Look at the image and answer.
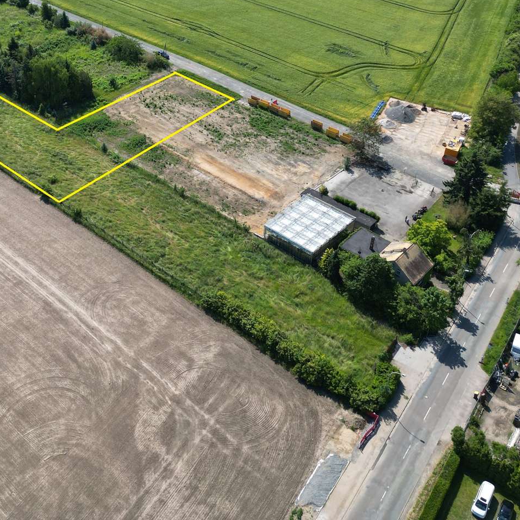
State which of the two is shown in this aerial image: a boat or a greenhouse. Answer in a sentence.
The one in the frame is a greenhouse.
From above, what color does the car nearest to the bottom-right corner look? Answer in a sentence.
The car nearest to the bottom-right corner looks black in the image.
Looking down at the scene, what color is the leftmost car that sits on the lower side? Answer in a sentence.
From above, the leftmost car that sits on the lower side appears white.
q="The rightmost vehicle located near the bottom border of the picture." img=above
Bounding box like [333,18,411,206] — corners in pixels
[493,496,516,520]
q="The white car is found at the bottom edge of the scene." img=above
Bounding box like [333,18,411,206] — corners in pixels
[471,483,494,517]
